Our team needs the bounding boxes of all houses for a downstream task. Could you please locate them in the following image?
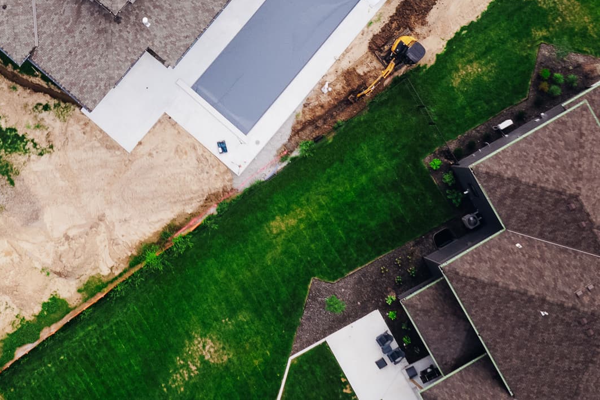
[396,77,600,400]
[0,0,232,113]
